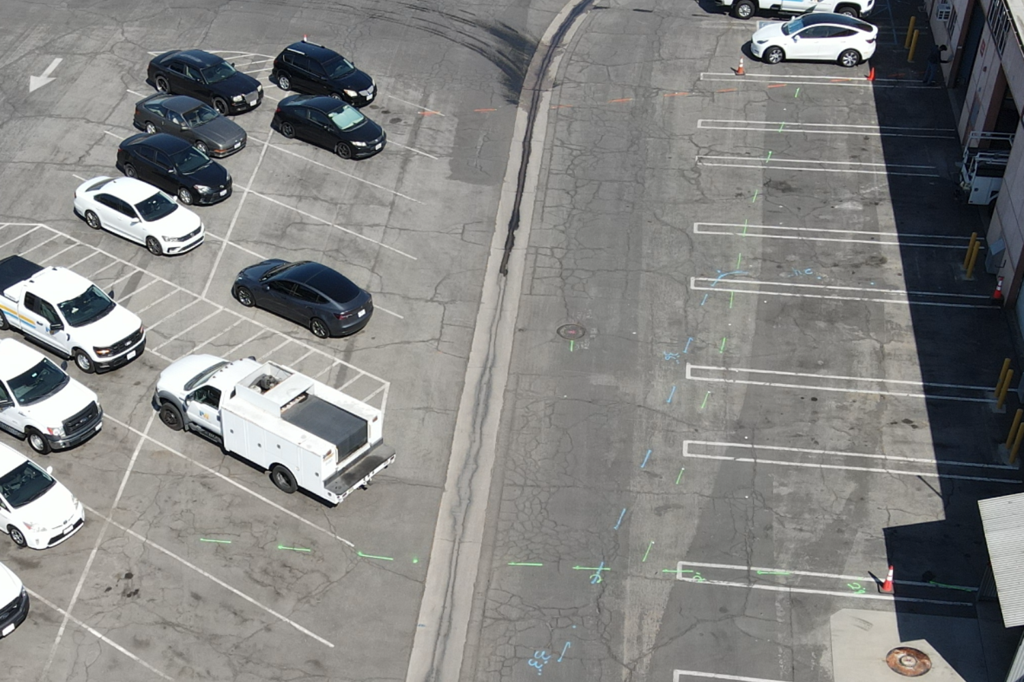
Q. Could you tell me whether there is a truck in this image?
Yes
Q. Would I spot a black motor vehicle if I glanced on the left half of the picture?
Yes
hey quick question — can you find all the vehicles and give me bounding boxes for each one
[0,340,107,454]
[750,10,881,66]
[115,130,234,202]
[148,352,397,509]
[137,90,249,153]
[0,445,84,547]
[274,92,389,157]
[149,47,269,114]
[710,0,873,18]
[77,174,207,255]
[942,123,1015,205]
[0,569,30,636]
[237,255,377,338]
[272,35,379,105]
[0,254,149,372]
